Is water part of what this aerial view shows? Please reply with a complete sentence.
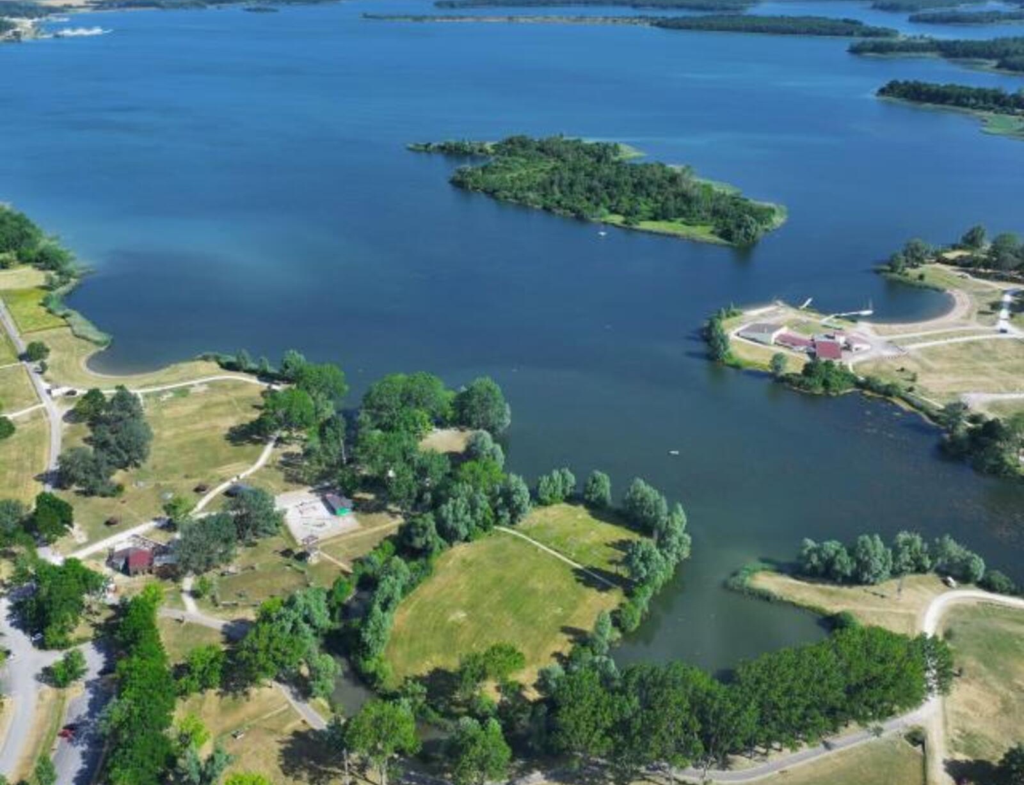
Yes, there's water in this view.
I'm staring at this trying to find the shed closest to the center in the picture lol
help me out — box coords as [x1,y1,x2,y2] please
[328,487,352,519]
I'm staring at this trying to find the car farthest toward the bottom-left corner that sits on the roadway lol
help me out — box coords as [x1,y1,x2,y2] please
[50,725,78,742]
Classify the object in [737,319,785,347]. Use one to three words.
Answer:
building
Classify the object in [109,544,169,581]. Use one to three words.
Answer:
building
